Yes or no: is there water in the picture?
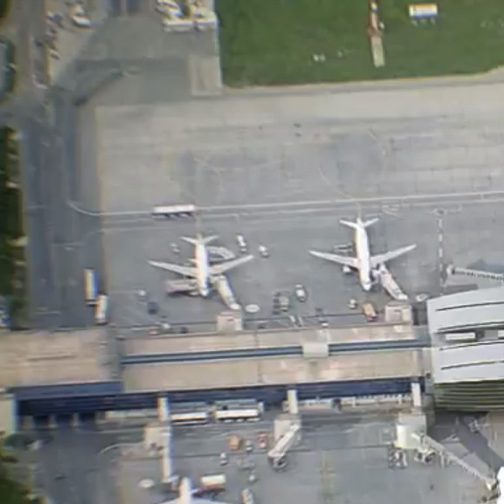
No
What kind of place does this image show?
airport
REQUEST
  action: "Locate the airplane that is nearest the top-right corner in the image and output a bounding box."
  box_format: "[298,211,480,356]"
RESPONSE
[309,202,415,291]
